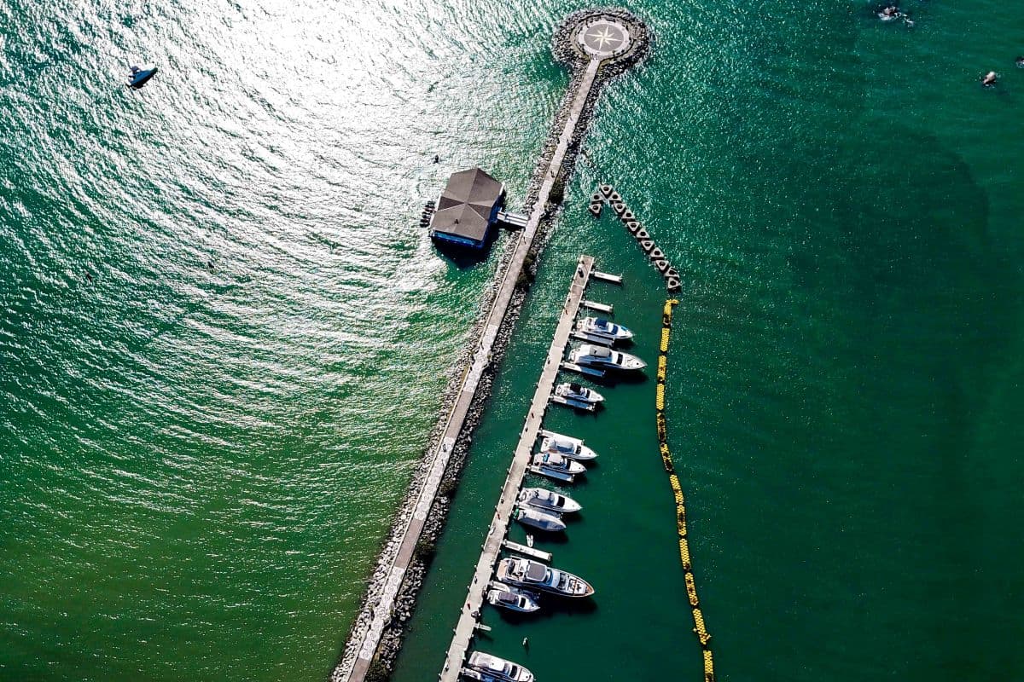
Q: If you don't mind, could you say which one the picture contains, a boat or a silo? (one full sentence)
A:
Looking from above, you can make out a boat.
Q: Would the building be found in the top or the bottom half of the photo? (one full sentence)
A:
The building is in the top half of the image.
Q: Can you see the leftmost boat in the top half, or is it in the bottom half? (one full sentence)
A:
You can find the leftmost boat in the top half.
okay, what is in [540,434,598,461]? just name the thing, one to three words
boat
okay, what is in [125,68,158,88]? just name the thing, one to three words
boat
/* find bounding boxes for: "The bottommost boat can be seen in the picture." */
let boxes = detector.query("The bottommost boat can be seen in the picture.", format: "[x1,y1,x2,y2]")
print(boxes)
[468,645,536,682]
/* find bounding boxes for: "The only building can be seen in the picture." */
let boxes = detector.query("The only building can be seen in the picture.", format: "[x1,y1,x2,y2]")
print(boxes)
[431,168,504,250]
